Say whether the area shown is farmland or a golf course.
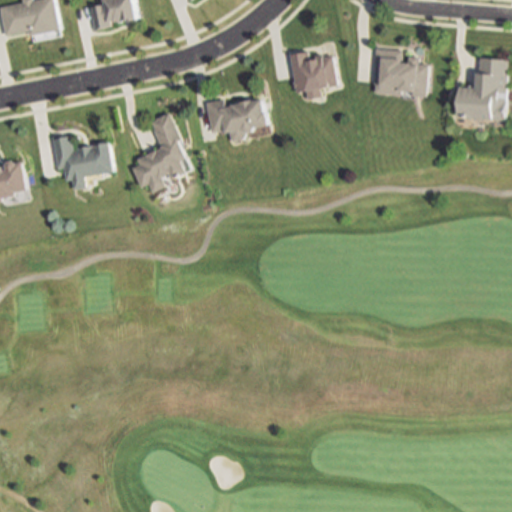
golf course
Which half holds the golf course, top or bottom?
bottom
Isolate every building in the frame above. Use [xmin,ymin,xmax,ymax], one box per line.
[451,59,512,128]
[54,134,116,192]
[132,114,194,205]
[292,42,343,102]
[98,0,138,29]
[0,161,33,207]
[374,48,434,100]
[208,98,274,147]
[0,0,60,44]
